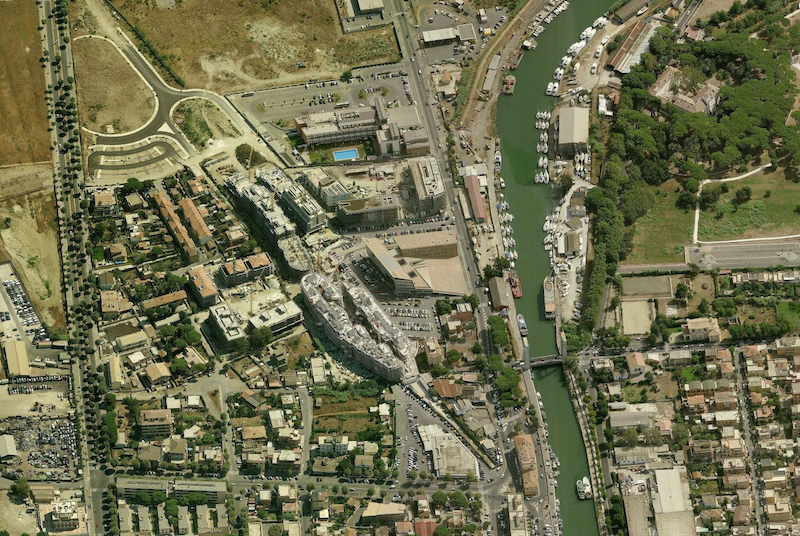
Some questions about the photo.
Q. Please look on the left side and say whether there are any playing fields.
No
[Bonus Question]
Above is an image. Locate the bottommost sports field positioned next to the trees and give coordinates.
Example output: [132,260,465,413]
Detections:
[622,301,652,334]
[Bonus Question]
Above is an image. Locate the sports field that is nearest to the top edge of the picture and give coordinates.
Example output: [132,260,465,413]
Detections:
[620,274,673,298]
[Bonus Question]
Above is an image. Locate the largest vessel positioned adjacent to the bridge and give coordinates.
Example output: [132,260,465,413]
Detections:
[543,274,556,320]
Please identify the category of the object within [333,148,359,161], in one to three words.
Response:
swimming pool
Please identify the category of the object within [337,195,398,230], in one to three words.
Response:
building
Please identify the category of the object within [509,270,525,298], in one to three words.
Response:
boat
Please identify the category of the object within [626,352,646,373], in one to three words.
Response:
house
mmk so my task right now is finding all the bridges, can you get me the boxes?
[520,331,568,370]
